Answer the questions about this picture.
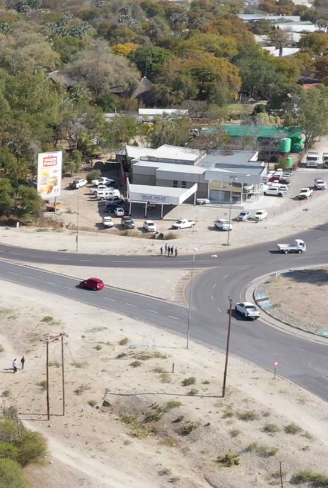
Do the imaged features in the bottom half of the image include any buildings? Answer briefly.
No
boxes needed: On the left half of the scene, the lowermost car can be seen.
[78,280,106,296]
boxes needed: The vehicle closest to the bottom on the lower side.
[233,304,260,322]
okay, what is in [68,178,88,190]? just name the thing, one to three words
vehicle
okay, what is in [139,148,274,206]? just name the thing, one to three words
building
